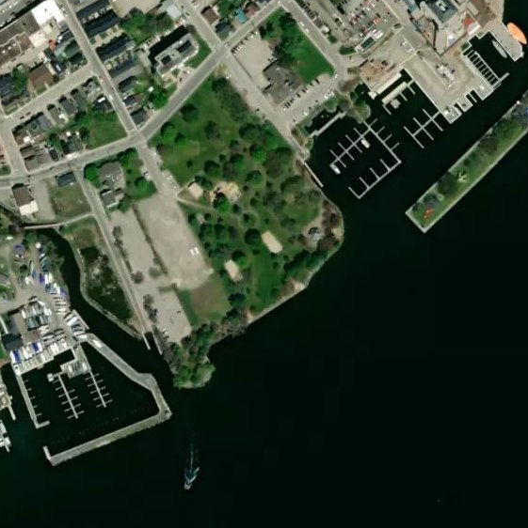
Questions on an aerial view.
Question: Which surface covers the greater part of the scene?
water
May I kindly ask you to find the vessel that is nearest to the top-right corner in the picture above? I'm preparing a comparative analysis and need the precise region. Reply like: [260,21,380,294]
[509,22,526,42]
